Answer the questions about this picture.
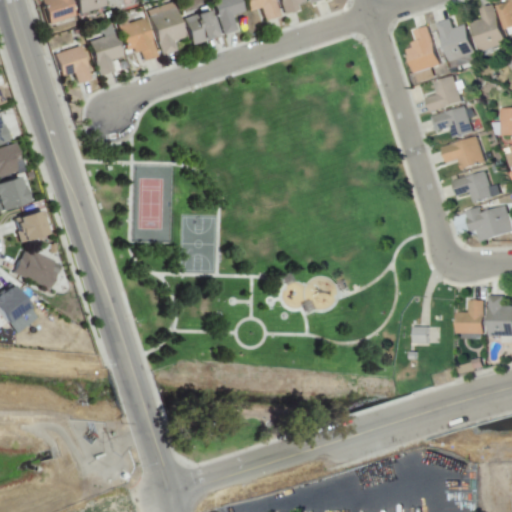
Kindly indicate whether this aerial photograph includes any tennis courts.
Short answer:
Yes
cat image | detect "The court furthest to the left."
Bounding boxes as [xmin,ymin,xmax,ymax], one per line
[133,164,172,244]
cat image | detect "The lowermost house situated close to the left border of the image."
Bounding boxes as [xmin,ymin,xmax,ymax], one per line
[0,289,36,329]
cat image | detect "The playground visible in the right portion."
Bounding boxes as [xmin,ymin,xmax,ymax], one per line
[278,274,340,314]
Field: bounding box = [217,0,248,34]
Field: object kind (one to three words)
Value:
house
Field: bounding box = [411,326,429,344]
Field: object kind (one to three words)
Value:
building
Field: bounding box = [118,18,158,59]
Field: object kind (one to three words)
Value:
house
